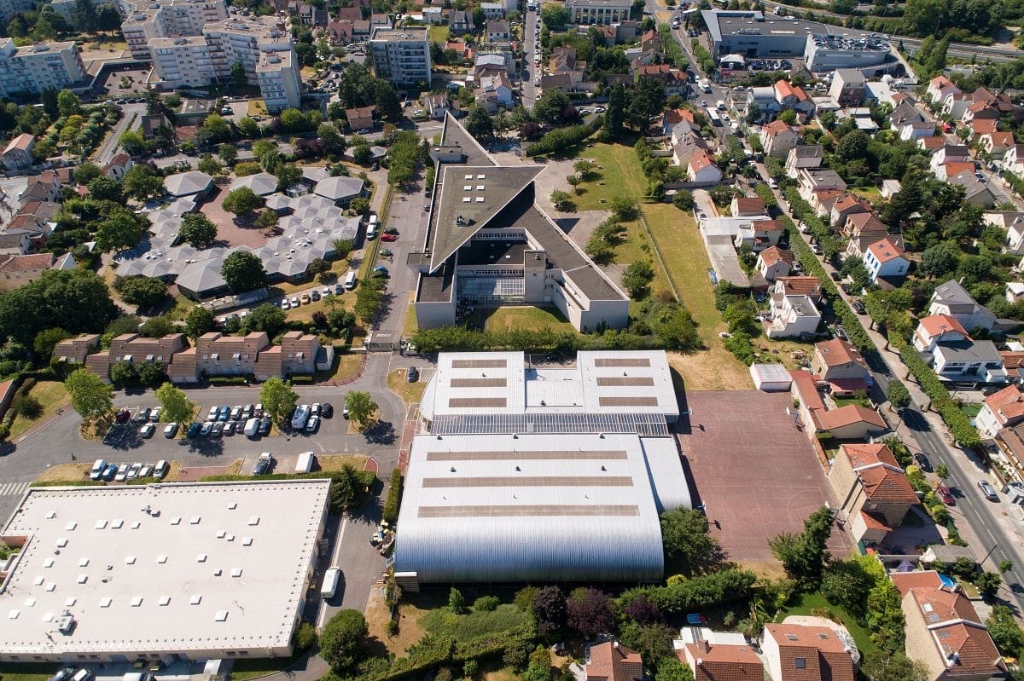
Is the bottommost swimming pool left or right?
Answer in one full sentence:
It is on the right.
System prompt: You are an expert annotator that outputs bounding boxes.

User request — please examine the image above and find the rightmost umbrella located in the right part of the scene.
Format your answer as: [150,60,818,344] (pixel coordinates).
[893,557,918,574]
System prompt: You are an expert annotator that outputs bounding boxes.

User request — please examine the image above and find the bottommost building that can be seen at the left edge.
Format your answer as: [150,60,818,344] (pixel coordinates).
[0,479,335,681]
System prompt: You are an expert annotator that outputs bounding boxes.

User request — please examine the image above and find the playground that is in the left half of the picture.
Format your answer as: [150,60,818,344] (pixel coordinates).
[181,186,281,248]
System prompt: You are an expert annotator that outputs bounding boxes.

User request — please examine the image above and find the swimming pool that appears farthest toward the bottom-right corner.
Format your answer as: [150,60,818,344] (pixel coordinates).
[930,569,965,589]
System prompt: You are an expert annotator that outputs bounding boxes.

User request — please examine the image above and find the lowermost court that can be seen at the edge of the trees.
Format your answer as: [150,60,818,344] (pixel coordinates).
[680,390,854,561]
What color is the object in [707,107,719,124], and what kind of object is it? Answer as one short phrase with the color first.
white vehicle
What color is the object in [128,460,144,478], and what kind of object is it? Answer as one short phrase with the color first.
white car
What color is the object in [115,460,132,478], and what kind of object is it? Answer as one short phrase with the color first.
white car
